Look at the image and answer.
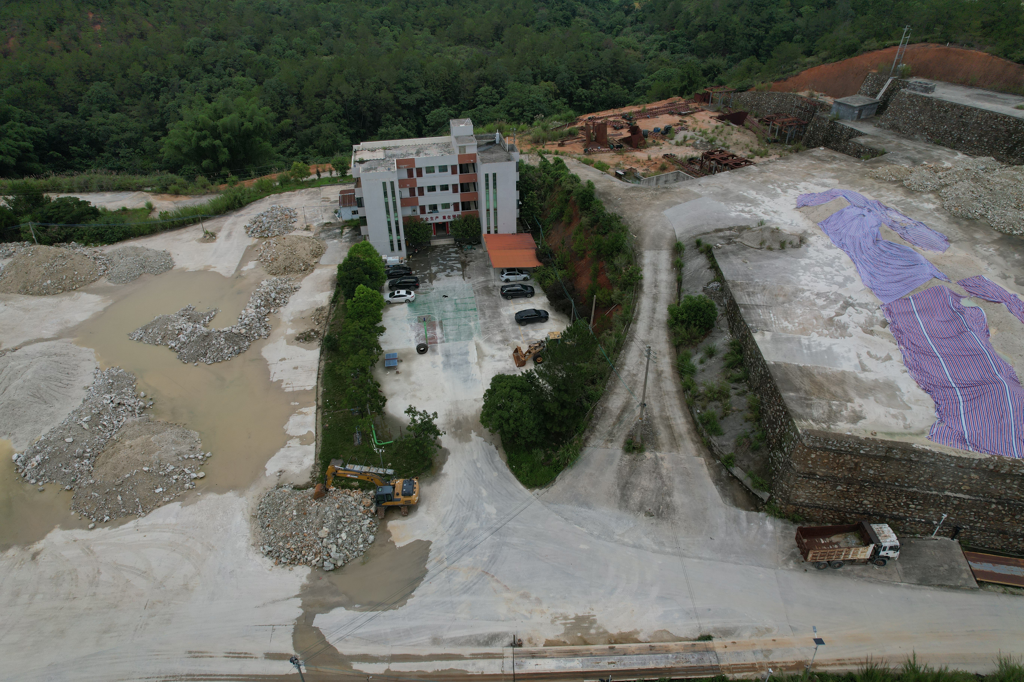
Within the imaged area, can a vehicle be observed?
Yes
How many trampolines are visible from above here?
none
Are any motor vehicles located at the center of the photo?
Yes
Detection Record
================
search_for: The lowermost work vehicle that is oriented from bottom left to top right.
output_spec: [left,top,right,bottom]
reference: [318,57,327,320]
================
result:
[518,337,561,368]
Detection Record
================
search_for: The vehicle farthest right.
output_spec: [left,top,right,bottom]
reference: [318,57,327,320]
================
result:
[797,525,906,570]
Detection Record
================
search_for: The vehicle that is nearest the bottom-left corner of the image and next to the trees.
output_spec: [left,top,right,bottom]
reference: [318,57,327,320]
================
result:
[314,462,422,519]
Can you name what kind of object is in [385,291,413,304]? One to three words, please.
vehicle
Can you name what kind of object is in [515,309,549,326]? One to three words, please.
car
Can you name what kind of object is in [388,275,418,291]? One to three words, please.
car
